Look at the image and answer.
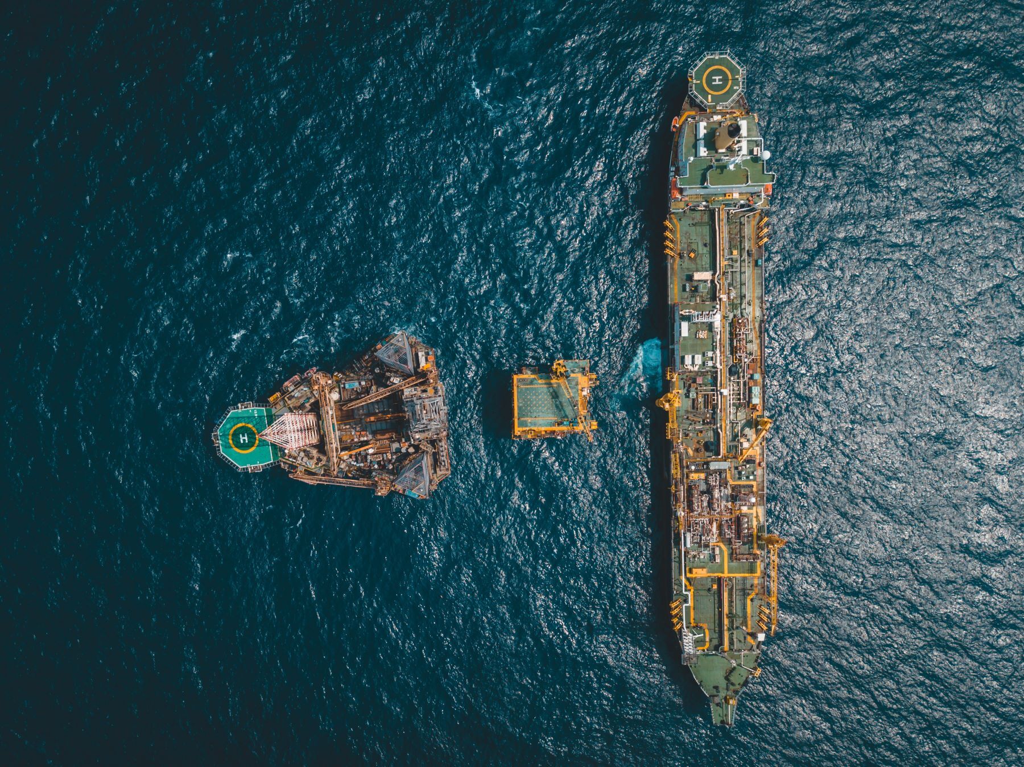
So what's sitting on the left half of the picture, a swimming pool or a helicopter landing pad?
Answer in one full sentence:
The feature located on the left half of the picture is a helicopter landing pad.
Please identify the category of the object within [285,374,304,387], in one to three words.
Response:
boat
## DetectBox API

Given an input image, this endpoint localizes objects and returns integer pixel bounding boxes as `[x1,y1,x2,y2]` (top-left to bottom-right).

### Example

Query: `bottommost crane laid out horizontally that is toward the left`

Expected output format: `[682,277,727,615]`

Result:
[288,474,393,496]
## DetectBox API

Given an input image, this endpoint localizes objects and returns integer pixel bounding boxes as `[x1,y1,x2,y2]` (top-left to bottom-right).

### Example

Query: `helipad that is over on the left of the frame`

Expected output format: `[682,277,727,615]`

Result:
[211,402,280,473]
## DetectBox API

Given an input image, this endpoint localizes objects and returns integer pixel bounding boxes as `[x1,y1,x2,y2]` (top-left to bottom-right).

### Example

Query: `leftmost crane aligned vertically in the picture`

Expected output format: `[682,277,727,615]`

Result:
[316,369,337,476]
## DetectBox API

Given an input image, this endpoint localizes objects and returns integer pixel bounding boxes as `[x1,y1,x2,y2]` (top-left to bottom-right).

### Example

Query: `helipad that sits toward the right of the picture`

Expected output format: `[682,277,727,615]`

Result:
[688,51,750,109]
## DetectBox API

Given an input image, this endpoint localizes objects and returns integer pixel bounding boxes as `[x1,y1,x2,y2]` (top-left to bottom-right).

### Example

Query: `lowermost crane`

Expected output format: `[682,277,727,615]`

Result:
[759,536,791,635]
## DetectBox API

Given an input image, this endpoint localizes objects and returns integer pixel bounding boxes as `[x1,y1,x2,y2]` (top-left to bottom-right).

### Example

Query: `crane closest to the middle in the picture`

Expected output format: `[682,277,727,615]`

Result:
[552,360,593,442]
